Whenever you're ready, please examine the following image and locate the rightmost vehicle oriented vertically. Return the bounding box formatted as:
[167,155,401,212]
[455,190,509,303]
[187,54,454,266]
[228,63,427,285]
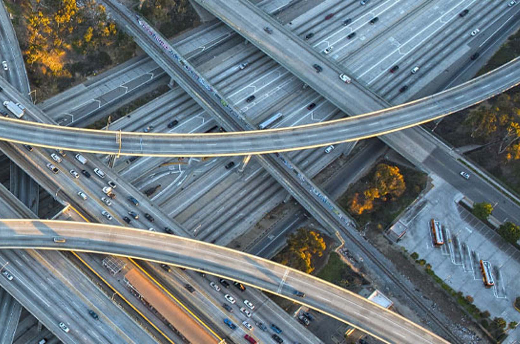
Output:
[479,260,493,288]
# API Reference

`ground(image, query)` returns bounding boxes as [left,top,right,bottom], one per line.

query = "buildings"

[386,220,407,244]
[367,290,394,309]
